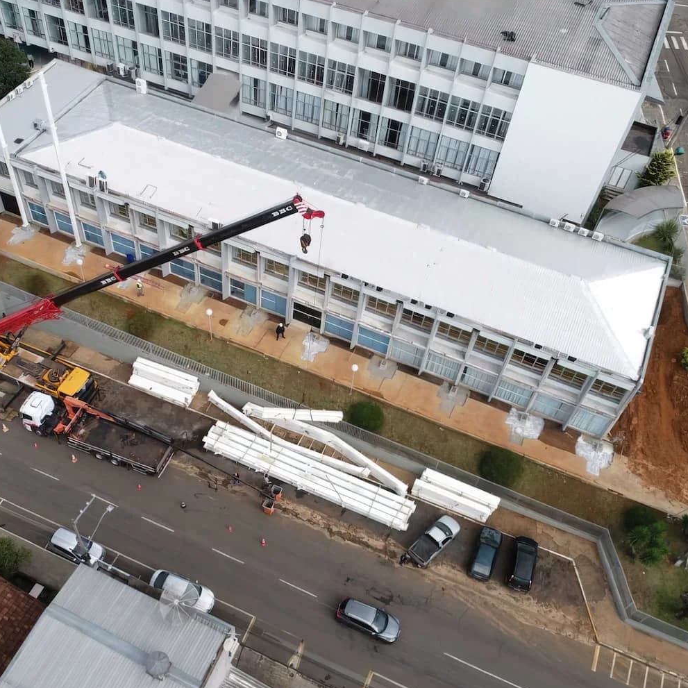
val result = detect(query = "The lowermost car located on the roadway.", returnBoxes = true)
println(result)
[335,595,401,650]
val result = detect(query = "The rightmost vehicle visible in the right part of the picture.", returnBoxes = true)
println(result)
[508,535,547,589]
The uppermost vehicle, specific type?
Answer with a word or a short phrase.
truck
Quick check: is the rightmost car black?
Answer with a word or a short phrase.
Yes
